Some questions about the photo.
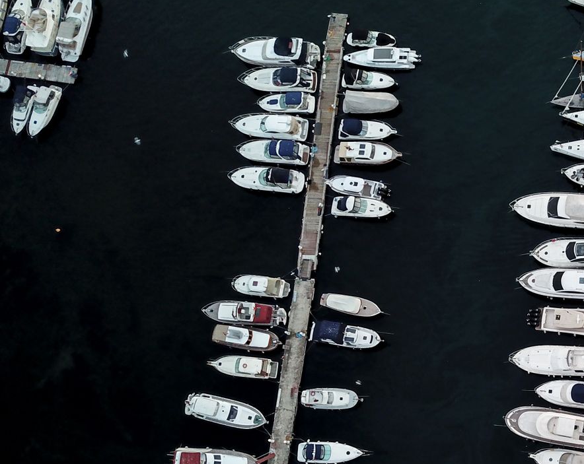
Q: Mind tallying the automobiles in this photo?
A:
0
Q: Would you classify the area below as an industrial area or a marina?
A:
marina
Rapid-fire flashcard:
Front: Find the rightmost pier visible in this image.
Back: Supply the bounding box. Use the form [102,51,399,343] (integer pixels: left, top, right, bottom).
[297,14,351,282]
